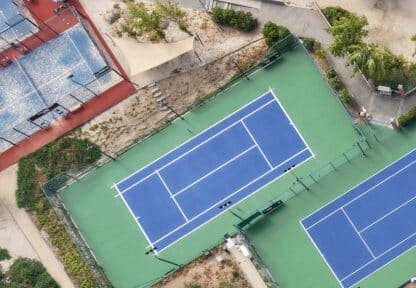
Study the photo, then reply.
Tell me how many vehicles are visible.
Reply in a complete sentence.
No vehicles are visible.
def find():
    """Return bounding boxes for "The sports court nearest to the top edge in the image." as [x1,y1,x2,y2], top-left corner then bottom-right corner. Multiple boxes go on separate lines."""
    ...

[0,0,40,50]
